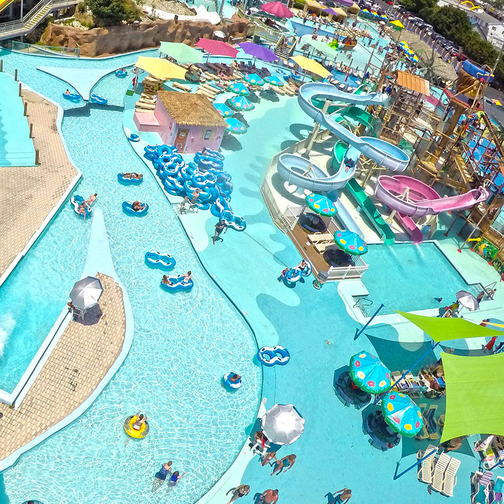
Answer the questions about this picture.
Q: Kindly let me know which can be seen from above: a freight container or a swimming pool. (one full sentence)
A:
This aerial view contains a swimming pool.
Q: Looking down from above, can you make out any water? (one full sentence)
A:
Yes, there's water in this view.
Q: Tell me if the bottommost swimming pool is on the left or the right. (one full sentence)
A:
The bottommost swimming pool is on the right side of the image.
